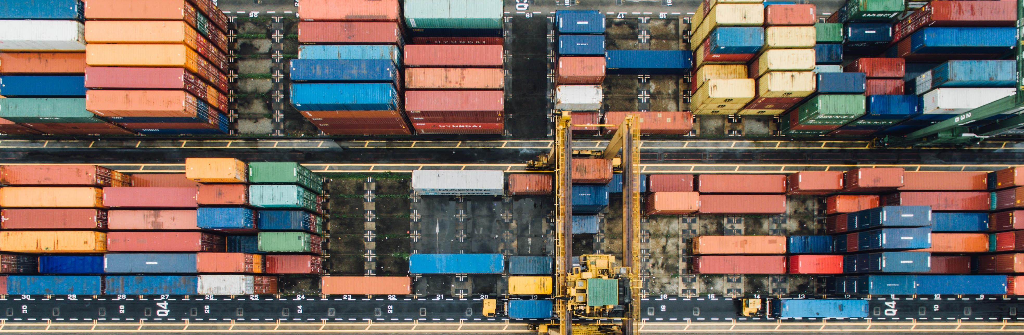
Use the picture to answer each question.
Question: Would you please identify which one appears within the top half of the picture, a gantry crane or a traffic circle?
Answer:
gantry crane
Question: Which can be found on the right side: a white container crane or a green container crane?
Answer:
green container crane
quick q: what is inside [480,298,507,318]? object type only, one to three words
work vehicle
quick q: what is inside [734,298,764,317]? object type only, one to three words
work vehicle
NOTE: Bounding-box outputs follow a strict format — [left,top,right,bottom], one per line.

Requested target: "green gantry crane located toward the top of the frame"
[869,0,1024,148]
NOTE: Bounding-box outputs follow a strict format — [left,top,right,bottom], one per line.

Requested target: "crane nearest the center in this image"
[525,110,642,335]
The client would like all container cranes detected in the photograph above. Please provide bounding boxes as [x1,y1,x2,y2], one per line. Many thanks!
[869,0,1024,148]
[525,110,642,335]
